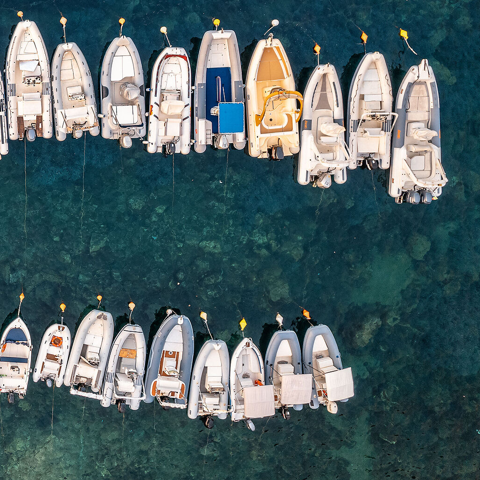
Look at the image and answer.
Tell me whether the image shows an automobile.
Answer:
No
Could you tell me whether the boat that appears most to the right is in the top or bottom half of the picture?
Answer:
top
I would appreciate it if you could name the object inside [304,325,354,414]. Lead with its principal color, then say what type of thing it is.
white boat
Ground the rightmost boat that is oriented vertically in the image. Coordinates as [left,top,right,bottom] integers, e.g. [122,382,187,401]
[390,54,448,204]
